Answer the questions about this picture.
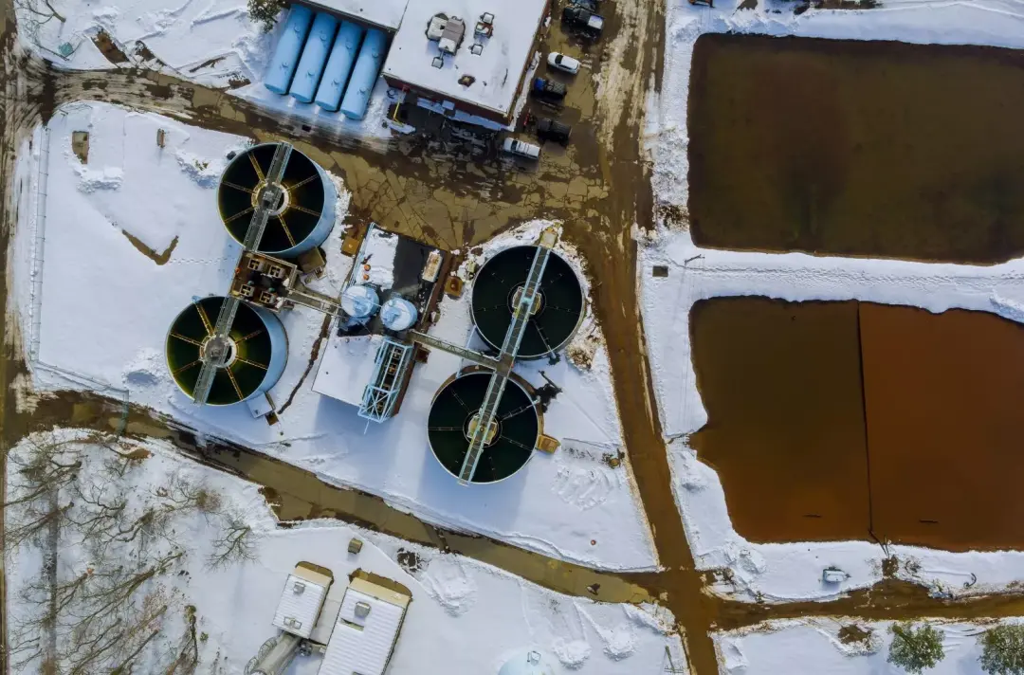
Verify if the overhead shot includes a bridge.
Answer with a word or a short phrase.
Yes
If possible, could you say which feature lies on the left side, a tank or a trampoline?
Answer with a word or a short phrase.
tank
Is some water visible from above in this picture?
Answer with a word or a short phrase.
Yes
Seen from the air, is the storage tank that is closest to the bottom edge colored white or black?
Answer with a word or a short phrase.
black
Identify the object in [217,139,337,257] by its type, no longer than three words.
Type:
storage tank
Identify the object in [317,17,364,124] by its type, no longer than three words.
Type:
storage tank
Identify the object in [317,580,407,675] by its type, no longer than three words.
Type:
house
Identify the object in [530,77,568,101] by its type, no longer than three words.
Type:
truck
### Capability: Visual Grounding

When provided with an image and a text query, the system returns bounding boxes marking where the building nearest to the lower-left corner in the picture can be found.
[273,566,333,638]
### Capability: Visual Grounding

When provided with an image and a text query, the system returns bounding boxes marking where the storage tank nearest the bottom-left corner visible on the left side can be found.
[165,295,287,406]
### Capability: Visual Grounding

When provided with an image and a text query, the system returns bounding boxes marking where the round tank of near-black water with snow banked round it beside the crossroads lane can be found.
[472,224,583,357]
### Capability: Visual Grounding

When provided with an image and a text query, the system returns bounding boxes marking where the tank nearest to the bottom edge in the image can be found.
[428,365,546,483]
